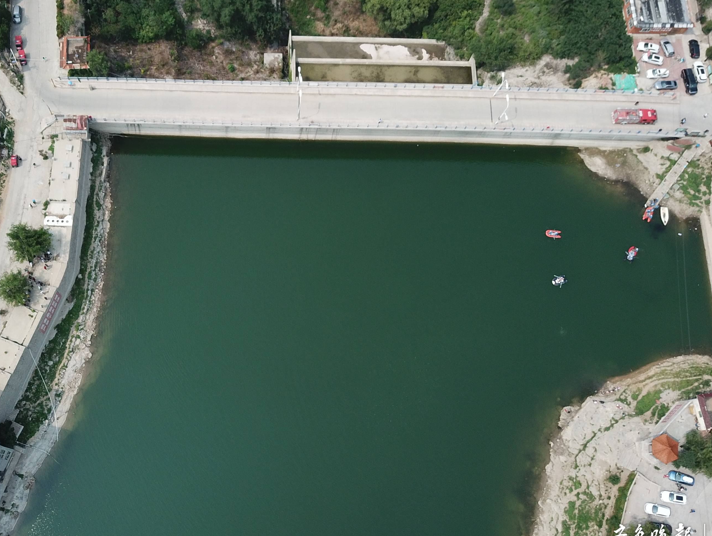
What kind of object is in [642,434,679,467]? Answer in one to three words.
building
